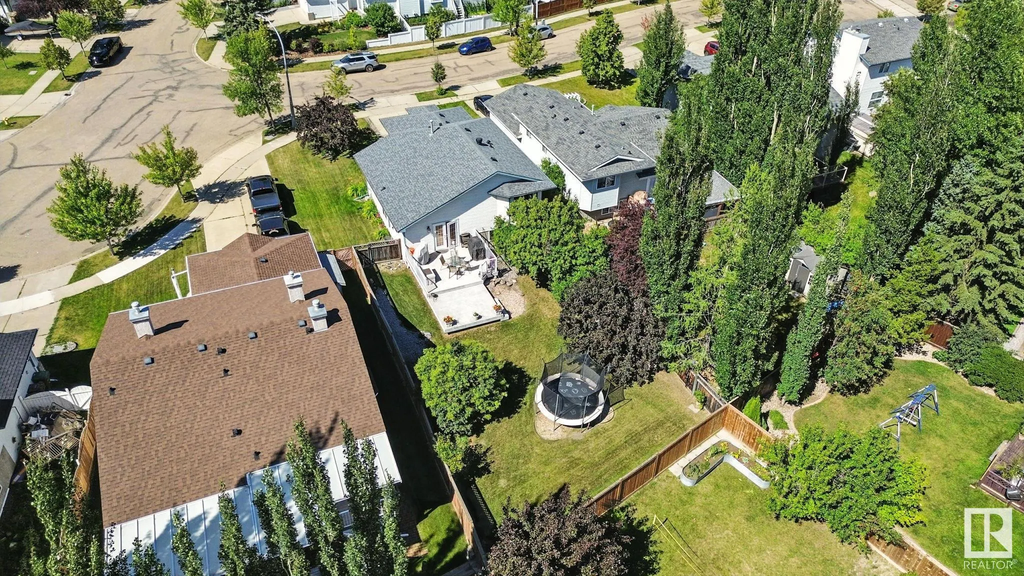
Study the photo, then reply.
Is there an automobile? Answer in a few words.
Yes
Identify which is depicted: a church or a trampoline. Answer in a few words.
trampoline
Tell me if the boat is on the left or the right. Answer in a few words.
left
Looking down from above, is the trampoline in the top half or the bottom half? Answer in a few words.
bottom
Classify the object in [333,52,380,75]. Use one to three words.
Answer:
car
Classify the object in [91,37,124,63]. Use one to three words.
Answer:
truck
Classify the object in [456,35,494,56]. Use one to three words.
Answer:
car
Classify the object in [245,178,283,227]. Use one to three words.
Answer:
truck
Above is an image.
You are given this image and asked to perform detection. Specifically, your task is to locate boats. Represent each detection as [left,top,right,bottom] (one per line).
[0,16,68,39]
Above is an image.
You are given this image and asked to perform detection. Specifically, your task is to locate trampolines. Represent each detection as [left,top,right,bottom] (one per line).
[533,350,608,437]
